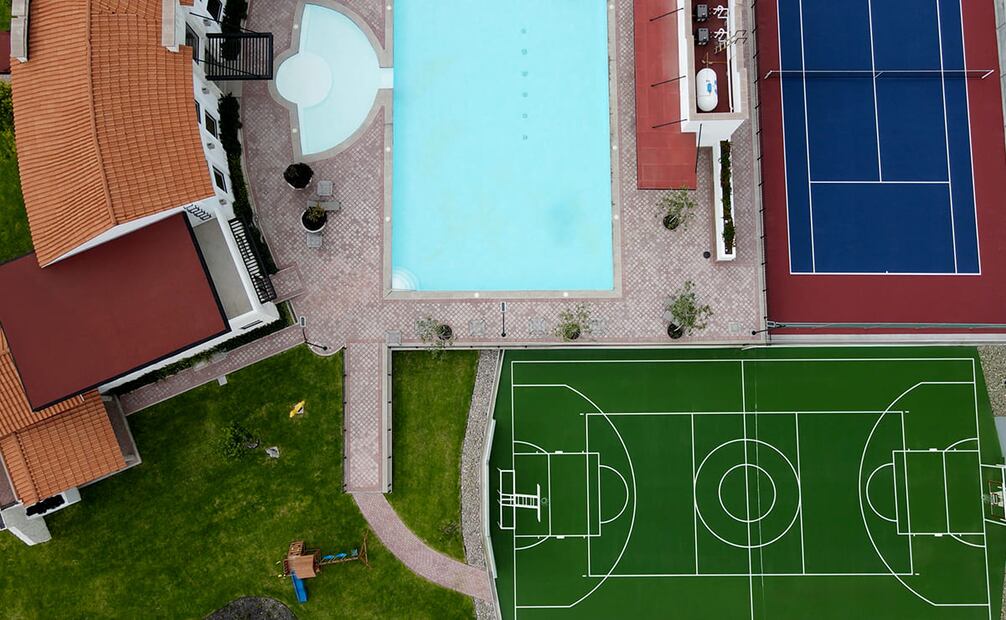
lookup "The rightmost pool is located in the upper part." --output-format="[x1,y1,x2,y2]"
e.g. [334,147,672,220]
[386,0,621,298]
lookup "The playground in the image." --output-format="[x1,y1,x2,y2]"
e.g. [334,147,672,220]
[286,532,372,604]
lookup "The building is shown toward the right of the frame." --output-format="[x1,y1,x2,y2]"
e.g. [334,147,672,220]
[633,0,749,190]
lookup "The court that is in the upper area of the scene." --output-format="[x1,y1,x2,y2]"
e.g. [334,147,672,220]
[757,0,1006,333]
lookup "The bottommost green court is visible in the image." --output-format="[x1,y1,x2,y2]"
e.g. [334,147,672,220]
[490,348,1006,620]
